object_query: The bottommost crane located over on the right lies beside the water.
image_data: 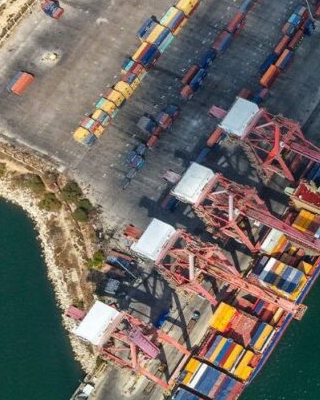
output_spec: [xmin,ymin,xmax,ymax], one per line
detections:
[122,217,309,321]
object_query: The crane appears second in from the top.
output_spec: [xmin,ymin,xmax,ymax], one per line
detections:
[163,160,320,253]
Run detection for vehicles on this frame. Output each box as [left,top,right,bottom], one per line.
[185,311,200,333]
[138,382,154,399]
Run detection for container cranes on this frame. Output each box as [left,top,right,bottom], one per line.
[122,217,309,321]
[163,160,320,253]
[209,95,320,189]
[63,299,193,389]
